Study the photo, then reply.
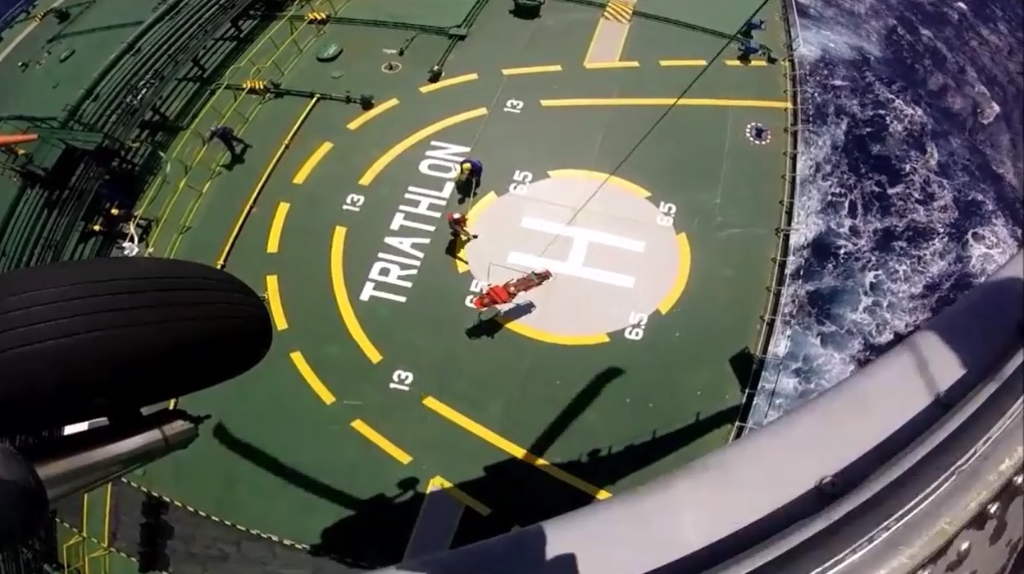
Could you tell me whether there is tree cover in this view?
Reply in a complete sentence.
No, no tree cover is visible.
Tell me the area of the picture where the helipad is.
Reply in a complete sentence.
The helipad sits in the center section of the image.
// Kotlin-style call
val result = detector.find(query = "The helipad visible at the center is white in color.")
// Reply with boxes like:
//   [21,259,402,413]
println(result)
[266,0,792,569]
